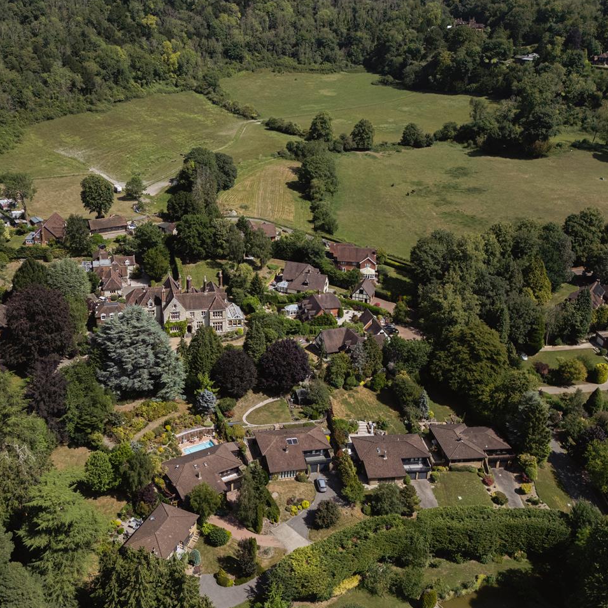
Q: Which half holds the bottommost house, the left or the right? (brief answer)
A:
left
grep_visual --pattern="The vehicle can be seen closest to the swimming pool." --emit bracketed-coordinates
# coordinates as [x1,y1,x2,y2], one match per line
[314,475,327,492]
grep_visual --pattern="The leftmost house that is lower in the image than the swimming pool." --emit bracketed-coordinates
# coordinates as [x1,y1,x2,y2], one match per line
[130,499,202,564]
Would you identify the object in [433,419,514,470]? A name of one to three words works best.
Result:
house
